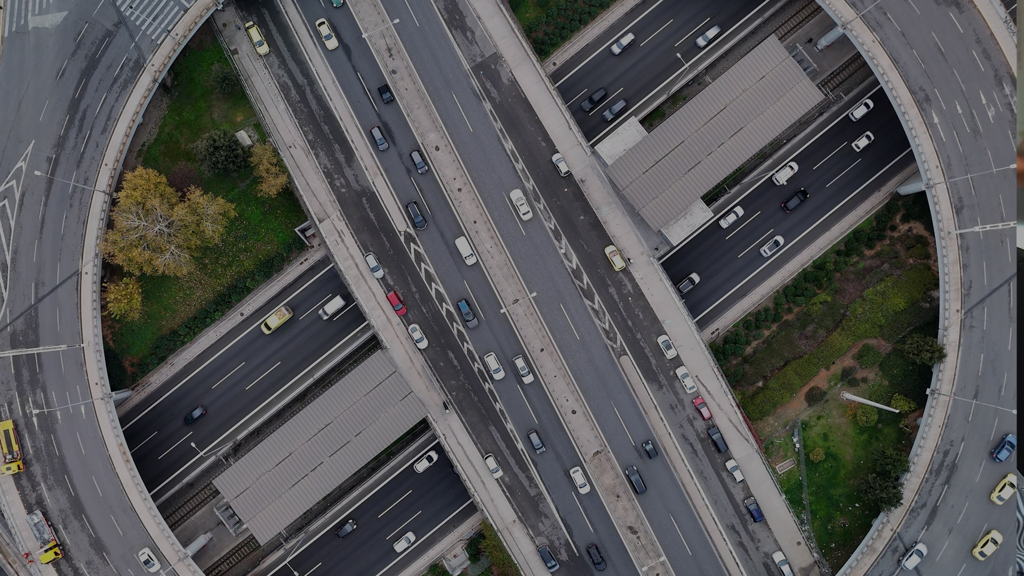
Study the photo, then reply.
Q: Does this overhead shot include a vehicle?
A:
Yes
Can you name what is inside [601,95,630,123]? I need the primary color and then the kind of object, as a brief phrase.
gray car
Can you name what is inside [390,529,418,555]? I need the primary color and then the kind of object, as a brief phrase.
white car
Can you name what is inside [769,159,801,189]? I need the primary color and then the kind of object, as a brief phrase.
white car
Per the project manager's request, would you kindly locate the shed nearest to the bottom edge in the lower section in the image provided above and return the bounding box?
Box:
[443,545,471,576]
